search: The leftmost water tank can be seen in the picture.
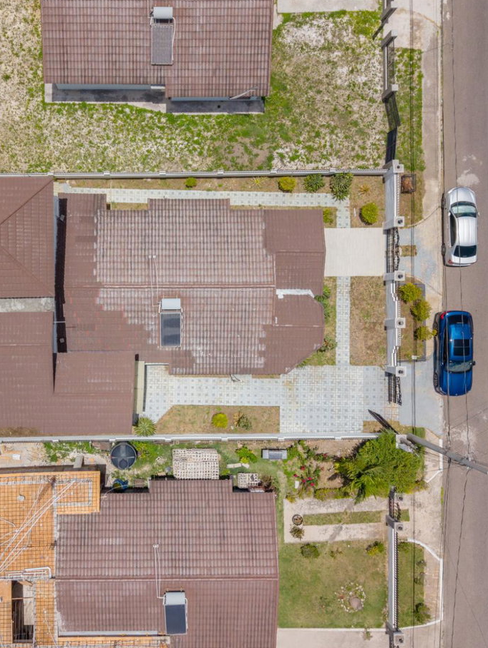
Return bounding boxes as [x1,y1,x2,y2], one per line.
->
[112,439,136,466]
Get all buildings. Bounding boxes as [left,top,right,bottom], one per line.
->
[39,0,272,99]
[49,477,281,648]
[0,176,327,434]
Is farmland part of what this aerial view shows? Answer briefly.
No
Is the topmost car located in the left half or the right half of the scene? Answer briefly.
right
